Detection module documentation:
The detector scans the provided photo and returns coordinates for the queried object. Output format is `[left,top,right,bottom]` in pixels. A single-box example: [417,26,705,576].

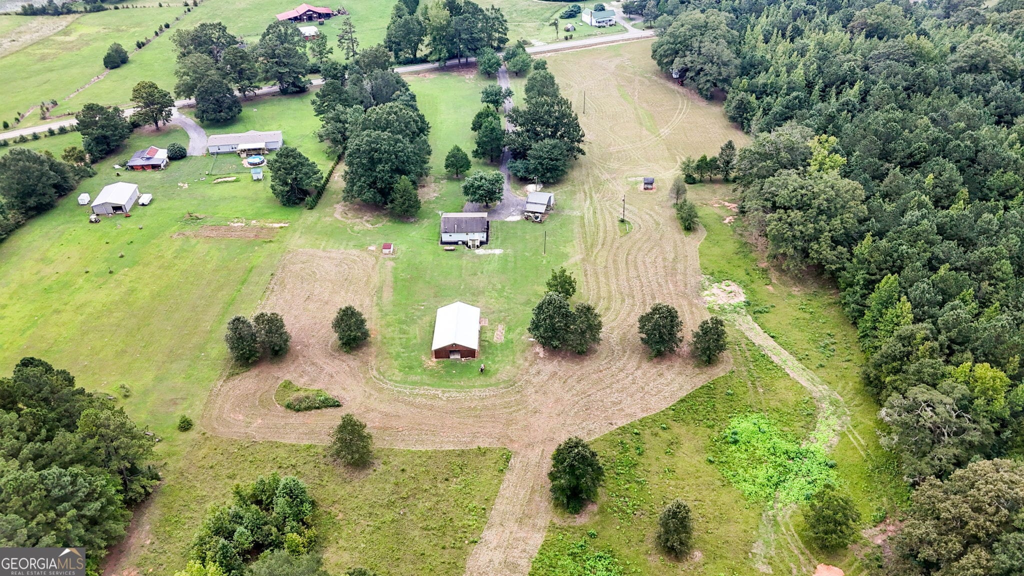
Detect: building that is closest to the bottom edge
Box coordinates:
[432,301,480,360]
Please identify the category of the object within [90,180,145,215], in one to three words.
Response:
building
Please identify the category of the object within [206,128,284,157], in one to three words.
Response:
house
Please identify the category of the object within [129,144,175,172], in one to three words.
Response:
barn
